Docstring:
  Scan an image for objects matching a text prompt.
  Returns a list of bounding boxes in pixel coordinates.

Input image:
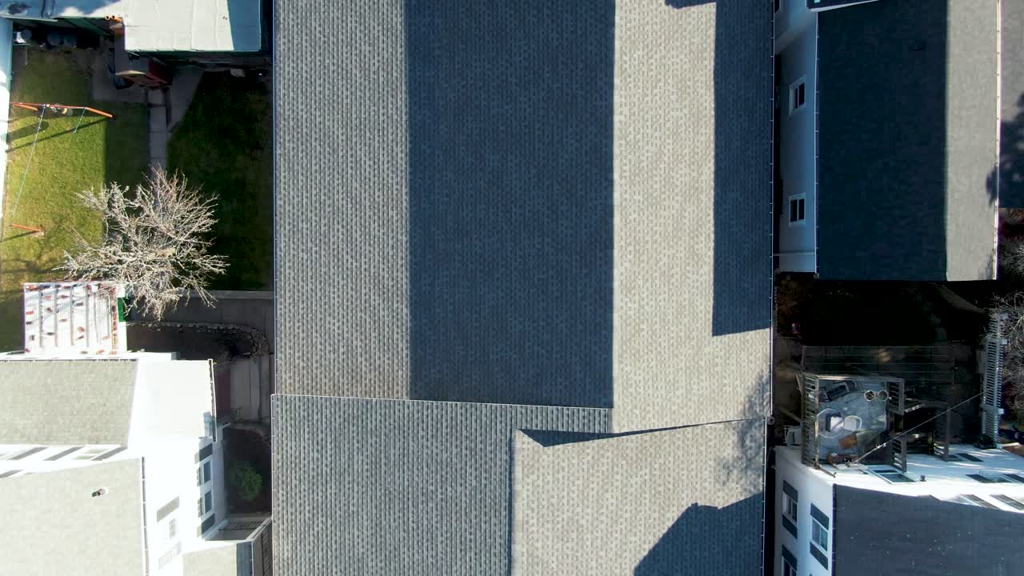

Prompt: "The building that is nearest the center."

[270,0,775,576]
